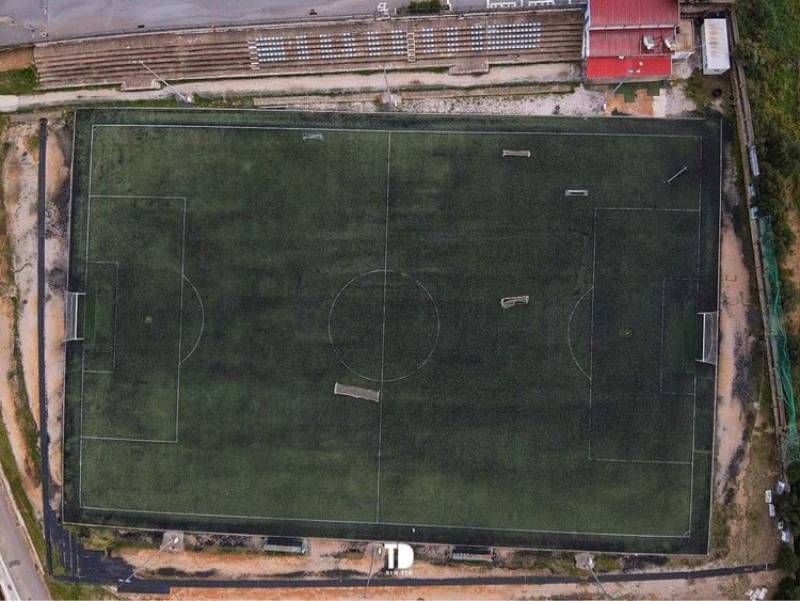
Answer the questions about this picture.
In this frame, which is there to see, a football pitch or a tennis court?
football pitch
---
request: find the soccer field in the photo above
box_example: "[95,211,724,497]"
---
[61,108,723,555]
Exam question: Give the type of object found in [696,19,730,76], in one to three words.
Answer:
building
